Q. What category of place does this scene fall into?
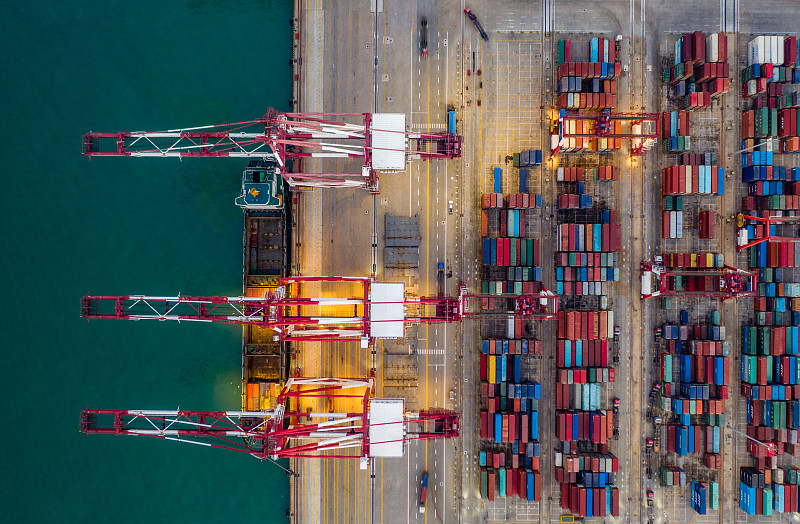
port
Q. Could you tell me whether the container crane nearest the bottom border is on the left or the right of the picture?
left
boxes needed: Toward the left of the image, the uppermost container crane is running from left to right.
[83,102,462,204]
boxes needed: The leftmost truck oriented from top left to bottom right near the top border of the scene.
[465,7,491,40]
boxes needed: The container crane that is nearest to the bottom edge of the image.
[80,356,460,462]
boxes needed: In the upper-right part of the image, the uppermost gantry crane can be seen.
[550,116,671,165]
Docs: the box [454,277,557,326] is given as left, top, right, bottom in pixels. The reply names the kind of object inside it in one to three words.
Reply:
container crane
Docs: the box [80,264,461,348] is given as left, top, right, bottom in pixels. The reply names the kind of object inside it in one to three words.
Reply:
container crane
